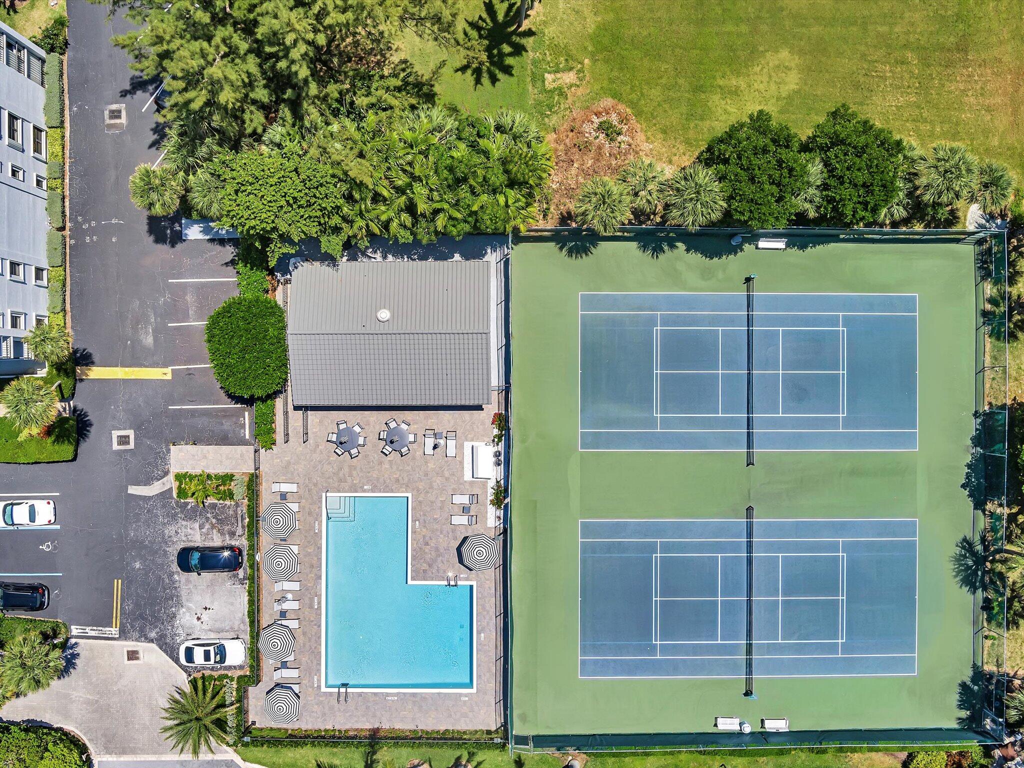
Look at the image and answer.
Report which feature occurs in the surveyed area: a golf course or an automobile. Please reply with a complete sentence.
The one in the frame is an automobile.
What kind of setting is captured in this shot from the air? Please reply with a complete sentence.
It's a sports ground.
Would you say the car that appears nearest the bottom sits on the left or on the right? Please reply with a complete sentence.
It is on the left.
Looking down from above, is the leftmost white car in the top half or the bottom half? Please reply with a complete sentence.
The leftmost white car sits in the bottom half of the picture.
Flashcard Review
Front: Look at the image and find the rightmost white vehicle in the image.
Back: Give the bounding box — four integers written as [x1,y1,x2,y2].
[179,636,249,669]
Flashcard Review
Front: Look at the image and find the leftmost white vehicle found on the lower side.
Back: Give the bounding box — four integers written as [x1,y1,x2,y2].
[0,498,58,529]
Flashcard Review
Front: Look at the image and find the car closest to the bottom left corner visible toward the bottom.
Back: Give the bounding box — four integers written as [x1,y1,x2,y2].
[0,581,53,612]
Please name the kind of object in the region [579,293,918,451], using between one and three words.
tennis court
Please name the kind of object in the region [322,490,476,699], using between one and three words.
swimming pool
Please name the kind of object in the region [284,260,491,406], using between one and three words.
building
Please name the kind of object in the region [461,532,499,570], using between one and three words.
umbrella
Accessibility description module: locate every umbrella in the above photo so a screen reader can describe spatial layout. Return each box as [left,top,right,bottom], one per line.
[461,532,499,570]
[265,682,304,721]
[258,623,296,661]
[264,545,301,581]
[259,501,296,538]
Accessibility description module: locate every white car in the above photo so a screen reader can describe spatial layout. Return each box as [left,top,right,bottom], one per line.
[179,636,249,669]
[0,498,58,529]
